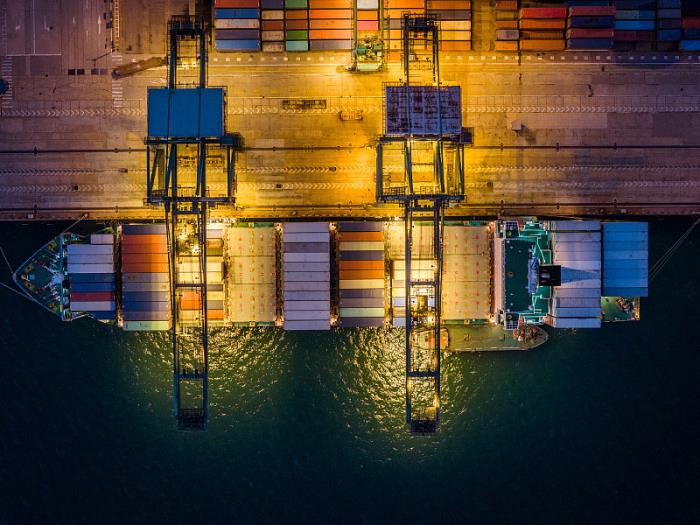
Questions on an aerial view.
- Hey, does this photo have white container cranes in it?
No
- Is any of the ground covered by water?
Yes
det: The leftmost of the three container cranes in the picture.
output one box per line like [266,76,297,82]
[141,17,260,432]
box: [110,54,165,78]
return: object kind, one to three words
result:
truck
